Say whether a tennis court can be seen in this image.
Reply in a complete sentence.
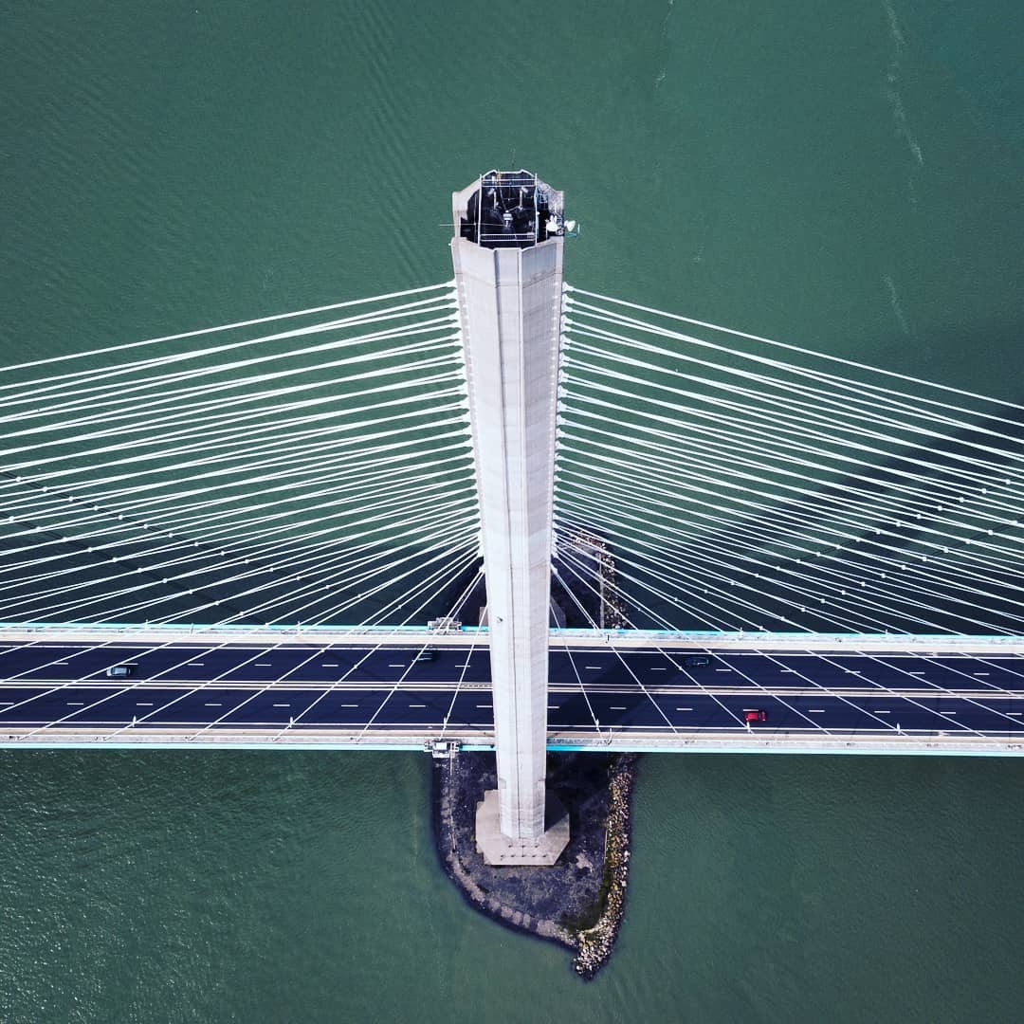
No, the frame has no tennis court in it.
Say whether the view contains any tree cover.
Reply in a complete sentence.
No, the scene doesn't show any tree cover.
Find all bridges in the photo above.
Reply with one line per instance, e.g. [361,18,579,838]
[0,174,1024,866]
